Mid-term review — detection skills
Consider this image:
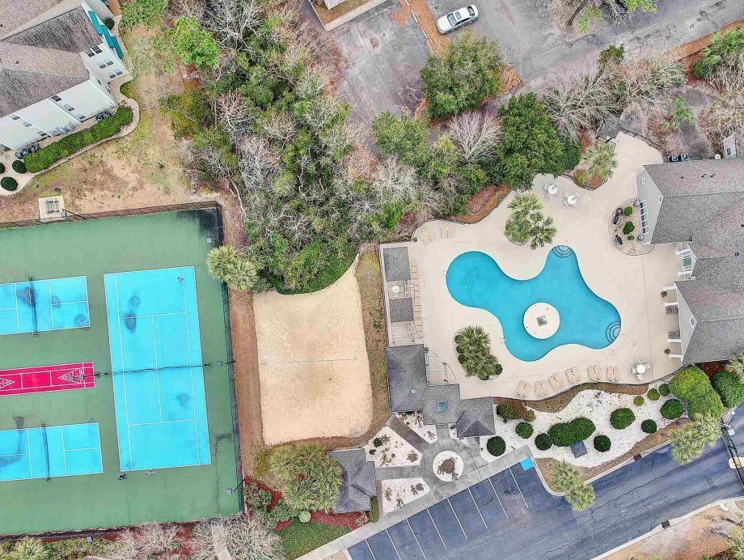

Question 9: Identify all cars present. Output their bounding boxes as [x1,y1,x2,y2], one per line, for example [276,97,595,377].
[437,1,479,32]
